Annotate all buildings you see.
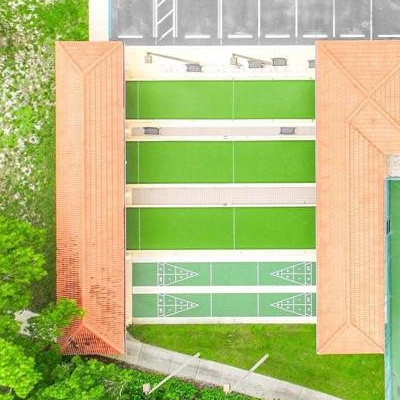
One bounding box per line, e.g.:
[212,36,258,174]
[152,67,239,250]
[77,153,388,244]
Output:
[55,41,127,356]
[315,40,400,355]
